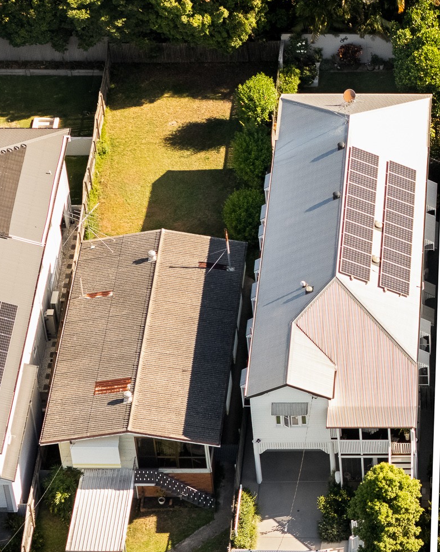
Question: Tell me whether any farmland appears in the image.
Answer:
No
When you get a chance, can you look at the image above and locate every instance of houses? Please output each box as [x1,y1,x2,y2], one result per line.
[242,93,439,529]
[0,134,70,512]
[40,228,248,506]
